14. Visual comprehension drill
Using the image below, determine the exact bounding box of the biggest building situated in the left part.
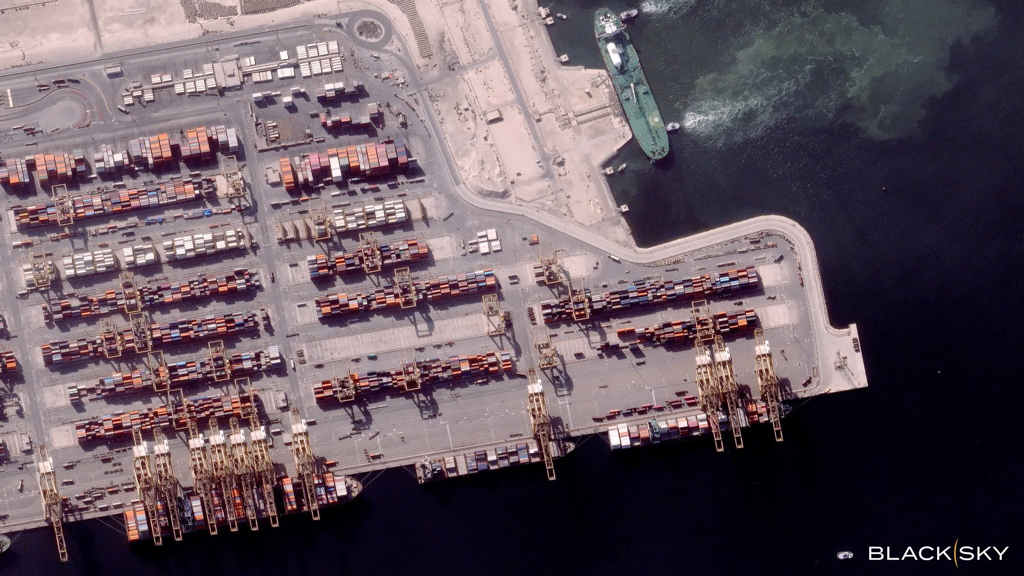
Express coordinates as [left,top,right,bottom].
[213,61,241,89]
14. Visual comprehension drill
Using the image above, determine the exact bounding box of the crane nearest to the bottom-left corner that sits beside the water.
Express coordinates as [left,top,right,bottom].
[39,444,68,562]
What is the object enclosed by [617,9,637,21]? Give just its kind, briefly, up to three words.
boat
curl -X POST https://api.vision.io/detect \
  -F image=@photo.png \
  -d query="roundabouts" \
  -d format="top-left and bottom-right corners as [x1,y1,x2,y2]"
[347,10,393,50]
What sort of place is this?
port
